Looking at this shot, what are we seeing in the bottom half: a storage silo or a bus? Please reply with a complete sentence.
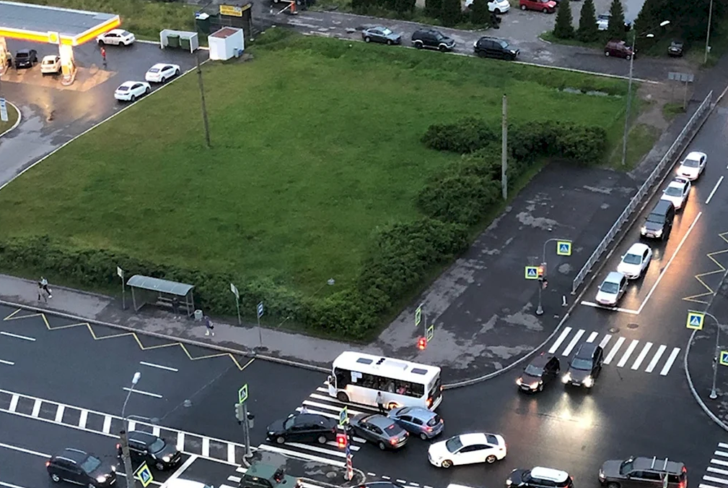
There is a bus in the bottom half.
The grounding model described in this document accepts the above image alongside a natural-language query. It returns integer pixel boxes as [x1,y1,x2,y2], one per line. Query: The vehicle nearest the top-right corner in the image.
[667,41,687,59]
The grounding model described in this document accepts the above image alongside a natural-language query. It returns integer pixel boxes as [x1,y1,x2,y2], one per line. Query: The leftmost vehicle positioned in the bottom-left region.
[43,443,119,488]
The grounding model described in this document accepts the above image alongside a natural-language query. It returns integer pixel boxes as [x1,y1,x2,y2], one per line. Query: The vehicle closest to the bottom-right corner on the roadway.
[601,452,689,488]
